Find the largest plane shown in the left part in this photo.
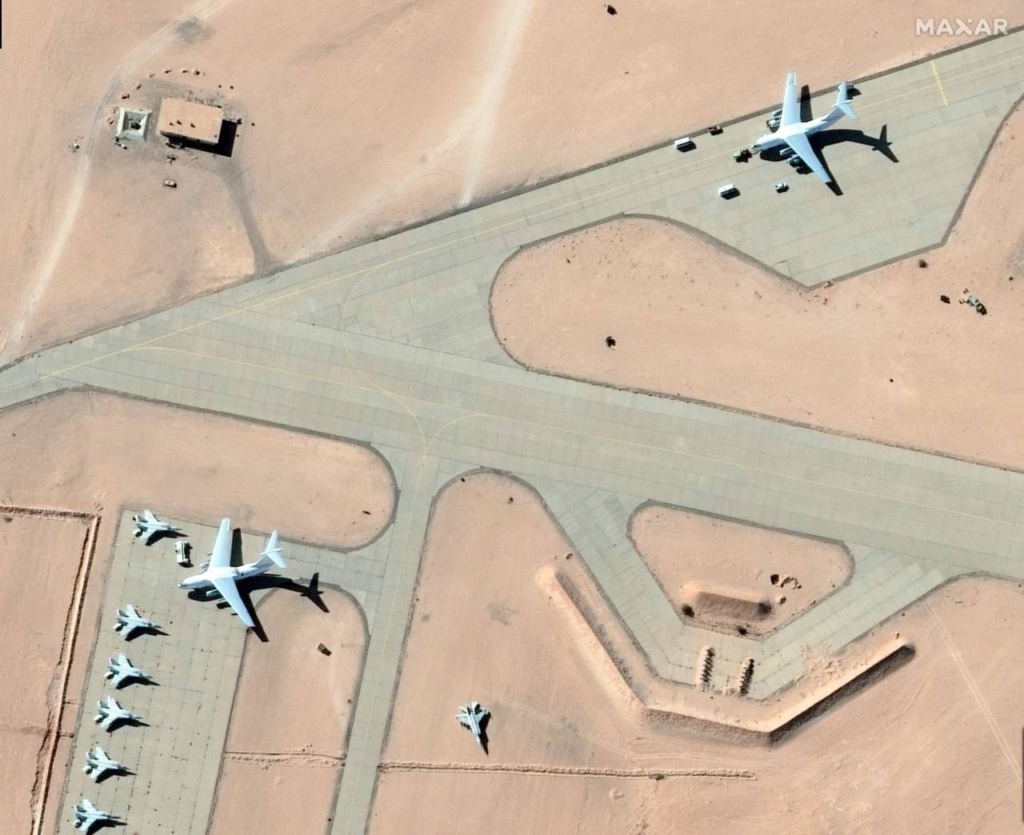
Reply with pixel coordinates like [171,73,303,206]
[177,515,285,625]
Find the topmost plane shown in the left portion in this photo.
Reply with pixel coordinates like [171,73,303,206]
[134,510,181,541]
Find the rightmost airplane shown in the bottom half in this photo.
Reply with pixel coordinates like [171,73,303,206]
[458,703,490,749]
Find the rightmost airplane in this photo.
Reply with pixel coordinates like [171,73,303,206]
[751,74,860,181]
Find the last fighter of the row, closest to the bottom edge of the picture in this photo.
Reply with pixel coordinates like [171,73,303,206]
[74,799,121,830]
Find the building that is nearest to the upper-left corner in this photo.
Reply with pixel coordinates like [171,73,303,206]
[158,98,224,146]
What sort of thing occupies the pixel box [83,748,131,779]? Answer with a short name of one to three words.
airplane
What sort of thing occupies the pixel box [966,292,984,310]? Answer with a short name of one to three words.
vehicle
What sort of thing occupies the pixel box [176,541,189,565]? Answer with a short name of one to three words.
vehicle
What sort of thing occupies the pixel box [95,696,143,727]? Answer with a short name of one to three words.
airplane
